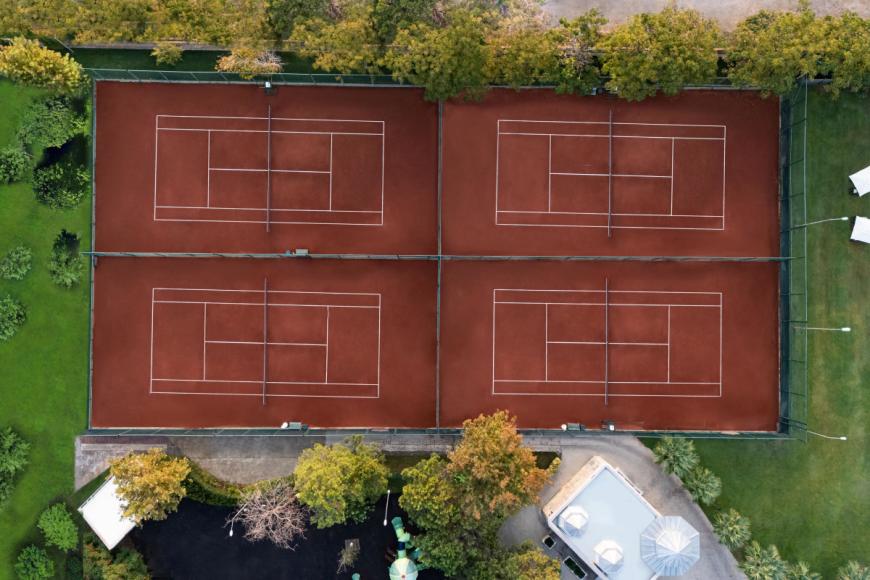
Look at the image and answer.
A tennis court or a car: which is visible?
tennis court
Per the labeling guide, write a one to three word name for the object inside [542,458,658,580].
building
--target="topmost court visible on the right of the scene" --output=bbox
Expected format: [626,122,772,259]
[442,87,779,258]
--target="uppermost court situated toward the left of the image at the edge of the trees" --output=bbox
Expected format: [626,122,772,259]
[94,82,440,256]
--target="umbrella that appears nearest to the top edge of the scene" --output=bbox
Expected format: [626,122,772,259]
[845,164,870,198]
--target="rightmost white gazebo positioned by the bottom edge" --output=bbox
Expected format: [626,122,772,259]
[640,508,700,577]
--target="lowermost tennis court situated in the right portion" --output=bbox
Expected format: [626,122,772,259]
[439,259,778,431]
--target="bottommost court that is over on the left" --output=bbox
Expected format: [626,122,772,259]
[93,259,440,429]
